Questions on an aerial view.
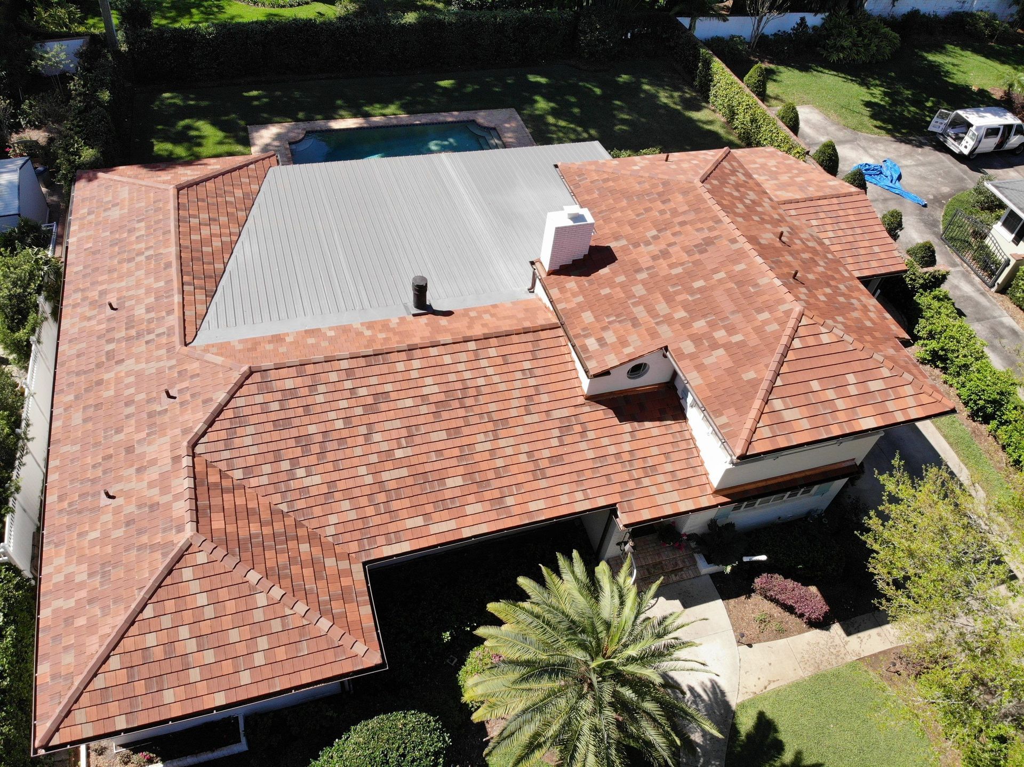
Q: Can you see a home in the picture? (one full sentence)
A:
Yes, looking at the shot, I can spot a home.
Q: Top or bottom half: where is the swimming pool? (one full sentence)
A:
The top half of the photo is where the swimming pool is.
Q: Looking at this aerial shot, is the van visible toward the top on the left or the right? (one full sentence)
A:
You can find the van visible toward the top on the right side of the picture.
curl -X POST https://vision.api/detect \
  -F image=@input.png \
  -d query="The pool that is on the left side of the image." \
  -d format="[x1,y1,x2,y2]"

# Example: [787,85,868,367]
[289,117,505,165]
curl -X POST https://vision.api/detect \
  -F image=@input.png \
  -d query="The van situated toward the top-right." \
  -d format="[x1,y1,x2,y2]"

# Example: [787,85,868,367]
[924,108,1024,160]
